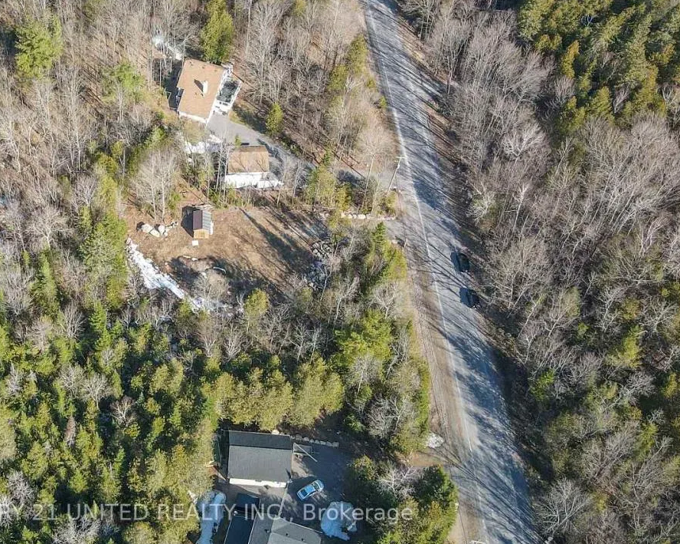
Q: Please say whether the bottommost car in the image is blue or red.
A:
blue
